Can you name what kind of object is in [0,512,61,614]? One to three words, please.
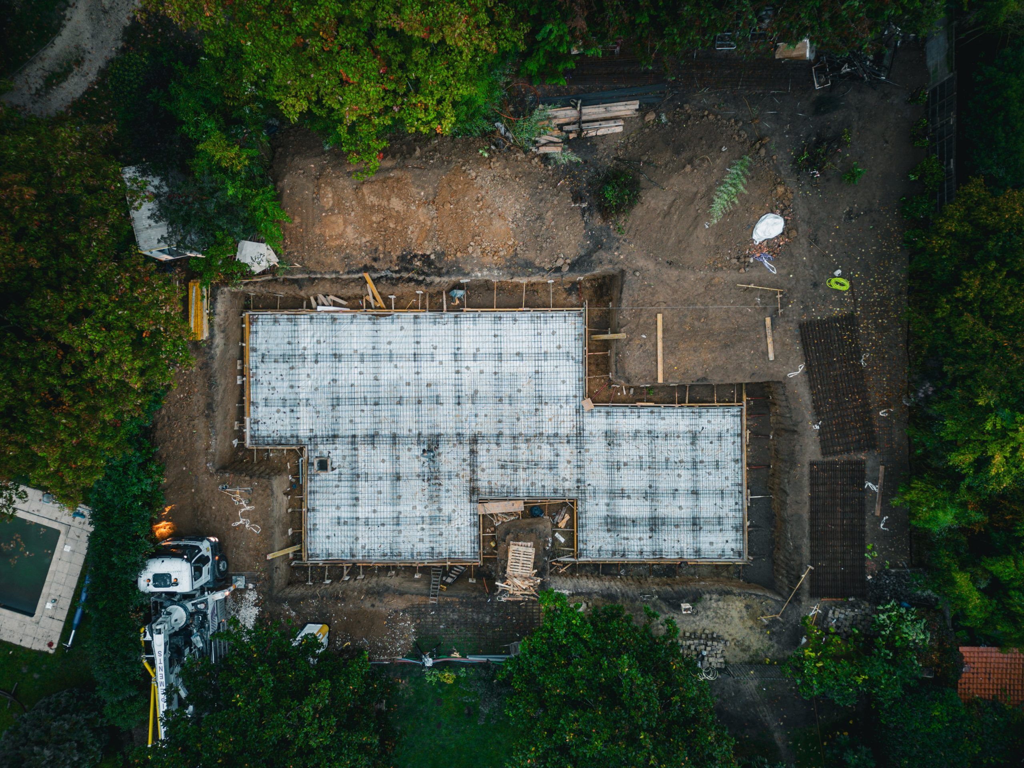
swimming pool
